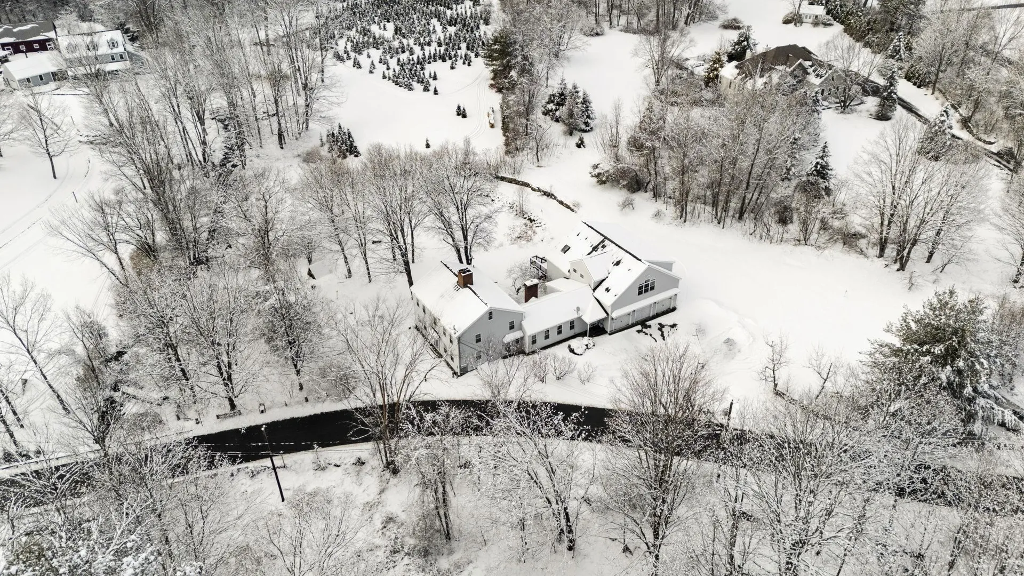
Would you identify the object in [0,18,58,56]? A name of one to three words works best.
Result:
barn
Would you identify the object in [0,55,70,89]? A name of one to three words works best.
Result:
house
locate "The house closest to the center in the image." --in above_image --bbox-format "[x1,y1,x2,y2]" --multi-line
[408,220,684,380]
